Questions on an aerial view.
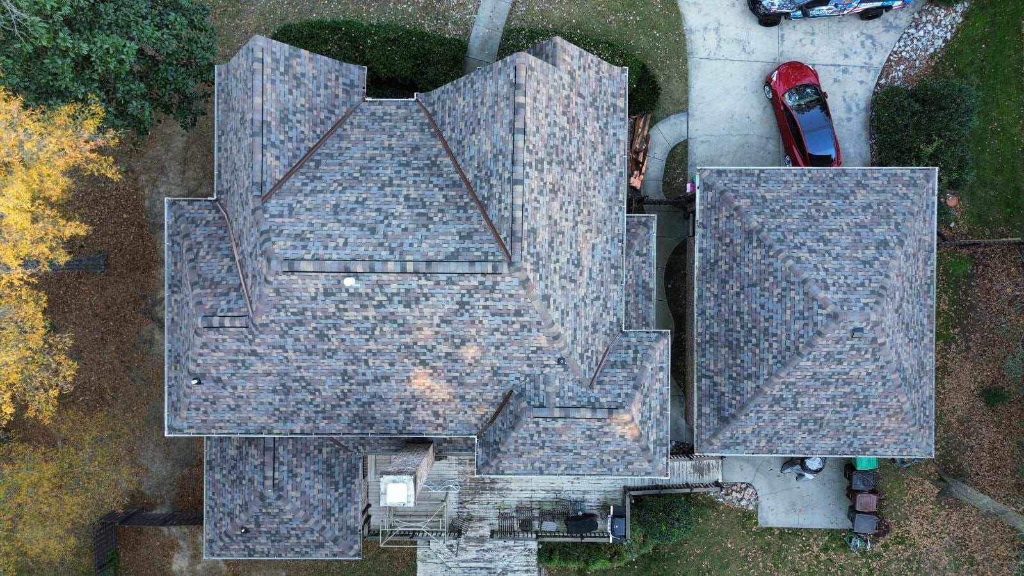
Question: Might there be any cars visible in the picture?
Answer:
Yes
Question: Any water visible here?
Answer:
No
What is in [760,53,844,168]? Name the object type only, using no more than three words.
car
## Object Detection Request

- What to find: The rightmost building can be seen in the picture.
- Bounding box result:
[688,167,937,457]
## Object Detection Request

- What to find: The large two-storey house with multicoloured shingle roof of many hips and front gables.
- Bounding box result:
[165,34,670,558]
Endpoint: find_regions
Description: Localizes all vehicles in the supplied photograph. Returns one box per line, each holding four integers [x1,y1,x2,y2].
[760,53,844,168]
[743,0,915,26]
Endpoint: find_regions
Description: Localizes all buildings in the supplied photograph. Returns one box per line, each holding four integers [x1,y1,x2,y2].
[165,34,670,558]
[688,167,937,457]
